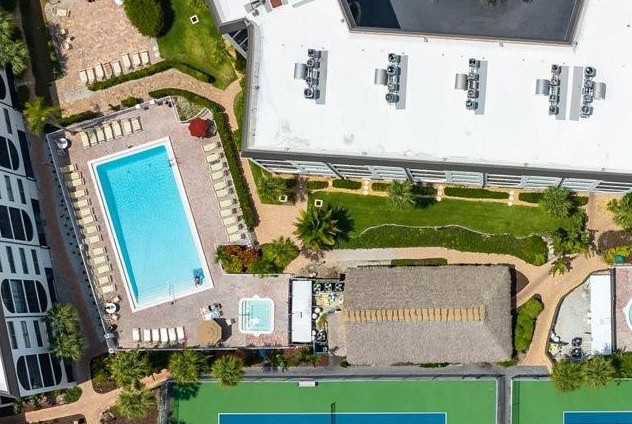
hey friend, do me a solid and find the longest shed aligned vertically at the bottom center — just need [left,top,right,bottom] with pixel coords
[292,281,313,342]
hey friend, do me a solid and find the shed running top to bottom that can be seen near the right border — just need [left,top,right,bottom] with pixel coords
[590,275,611,354]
